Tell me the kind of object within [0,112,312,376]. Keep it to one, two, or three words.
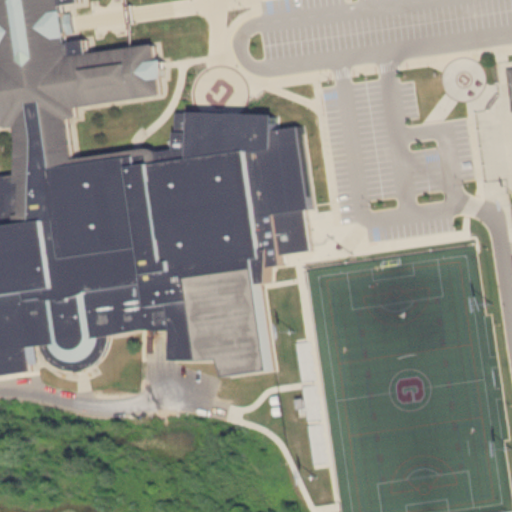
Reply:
building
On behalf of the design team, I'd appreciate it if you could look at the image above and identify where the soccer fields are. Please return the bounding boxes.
[308,244,512,512]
